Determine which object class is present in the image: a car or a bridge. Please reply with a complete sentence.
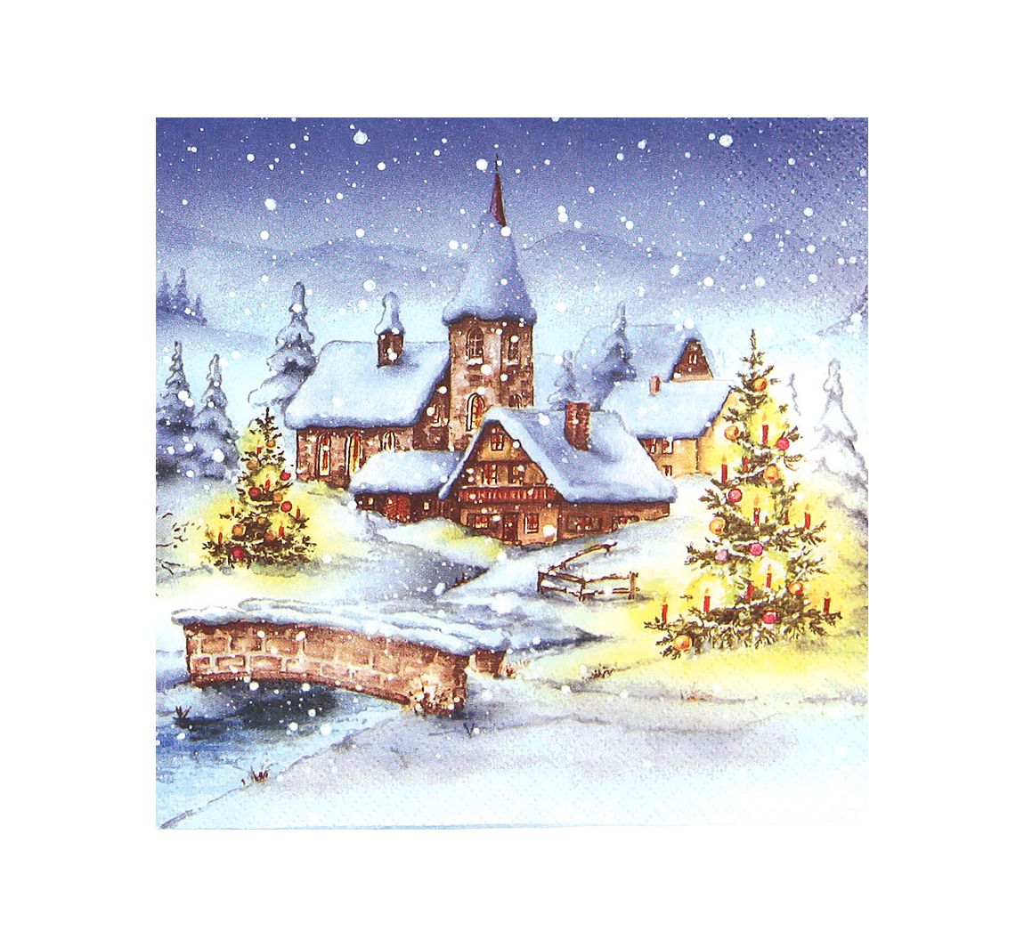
This aerial view contains a bridge.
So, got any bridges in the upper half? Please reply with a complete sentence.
No, there is no bridge in the upper half.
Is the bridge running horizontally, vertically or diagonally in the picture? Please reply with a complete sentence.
Seen from above, the bridge lies horizontally.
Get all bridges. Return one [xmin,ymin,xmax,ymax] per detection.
[171,599,511,718]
